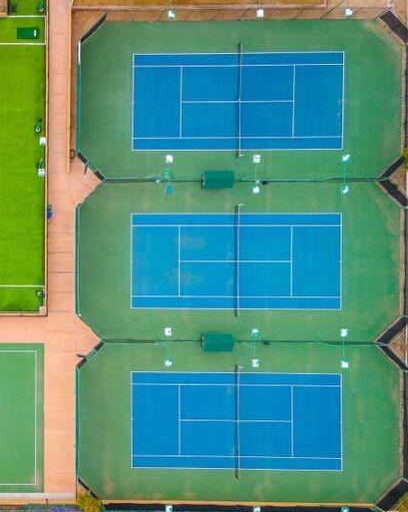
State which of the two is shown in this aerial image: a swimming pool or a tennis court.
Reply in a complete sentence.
The image shows a tennis court.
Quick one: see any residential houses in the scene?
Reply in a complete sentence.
No, there isn't any residential house down there.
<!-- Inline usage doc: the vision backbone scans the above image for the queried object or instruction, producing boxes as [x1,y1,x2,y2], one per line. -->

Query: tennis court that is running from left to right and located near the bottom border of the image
[80,344,402,502]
